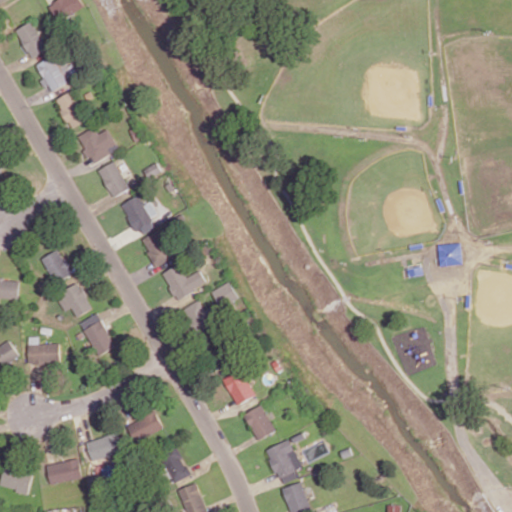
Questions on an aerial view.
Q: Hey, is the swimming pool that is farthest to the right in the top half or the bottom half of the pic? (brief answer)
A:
bottom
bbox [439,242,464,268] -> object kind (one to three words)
building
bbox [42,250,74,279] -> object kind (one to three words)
house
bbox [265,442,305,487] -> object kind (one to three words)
house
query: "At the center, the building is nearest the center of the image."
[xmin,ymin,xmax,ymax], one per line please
[212,282,242,304]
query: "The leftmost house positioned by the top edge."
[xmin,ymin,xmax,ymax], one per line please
[15,23,46,58]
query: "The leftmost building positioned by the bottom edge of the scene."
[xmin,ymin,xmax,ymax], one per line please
[2,472,36,494]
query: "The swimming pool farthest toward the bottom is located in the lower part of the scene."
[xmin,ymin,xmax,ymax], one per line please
[303,440,330,462]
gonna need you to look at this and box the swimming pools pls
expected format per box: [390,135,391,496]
[303,440,330,462]
[262,372,278,387]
